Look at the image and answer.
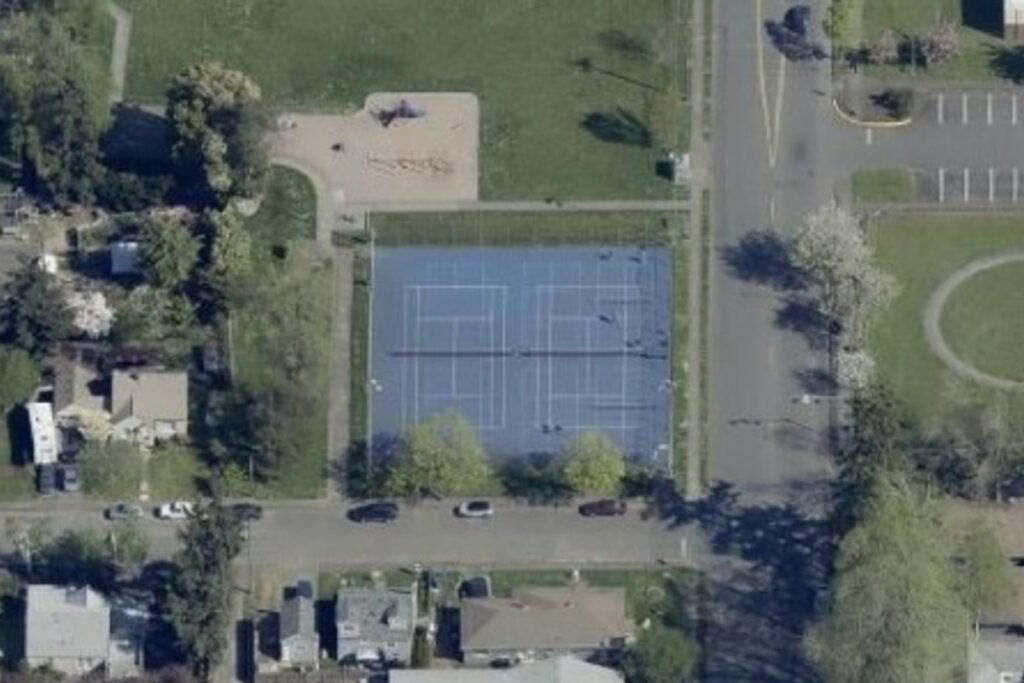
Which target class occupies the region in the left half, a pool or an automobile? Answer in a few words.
automobile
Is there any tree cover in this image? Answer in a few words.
Yes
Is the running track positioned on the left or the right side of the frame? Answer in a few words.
right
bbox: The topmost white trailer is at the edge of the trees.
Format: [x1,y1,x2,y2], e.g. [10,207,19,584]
[28,405,57,472]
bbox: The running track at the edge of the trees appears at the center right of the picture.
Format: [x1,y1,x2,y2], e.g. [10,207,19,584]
[926,256,1024,388]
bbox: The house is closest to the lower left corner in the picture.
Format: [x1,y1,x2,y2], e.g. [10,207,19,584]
[25,584,143,683]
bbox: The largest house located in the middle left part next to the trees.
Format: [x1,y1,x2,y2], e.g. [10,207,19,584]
[55,355,188,452]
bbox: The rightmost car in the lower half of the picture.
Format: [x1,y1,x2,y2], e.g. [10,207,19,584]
[581,503,626,522]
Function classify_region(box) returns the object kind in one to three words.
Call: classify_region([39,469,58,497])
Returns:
vehicle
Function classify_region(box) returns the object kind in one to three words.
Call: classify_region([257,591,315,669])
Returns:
house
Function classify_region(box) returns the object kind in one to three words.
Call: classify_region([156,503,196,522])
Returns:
car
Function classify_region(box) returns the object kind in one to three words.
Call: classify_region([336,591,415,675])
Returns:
house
